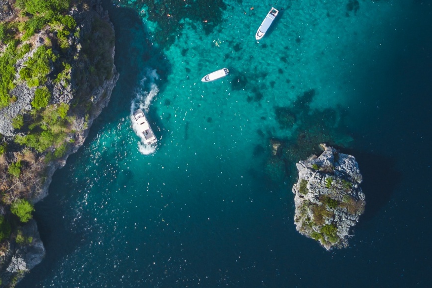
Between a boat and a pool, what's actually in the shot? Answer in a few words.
boat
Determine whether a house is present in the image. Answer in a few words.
No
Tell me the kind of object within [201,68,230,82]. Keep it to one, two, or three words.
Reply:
boat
